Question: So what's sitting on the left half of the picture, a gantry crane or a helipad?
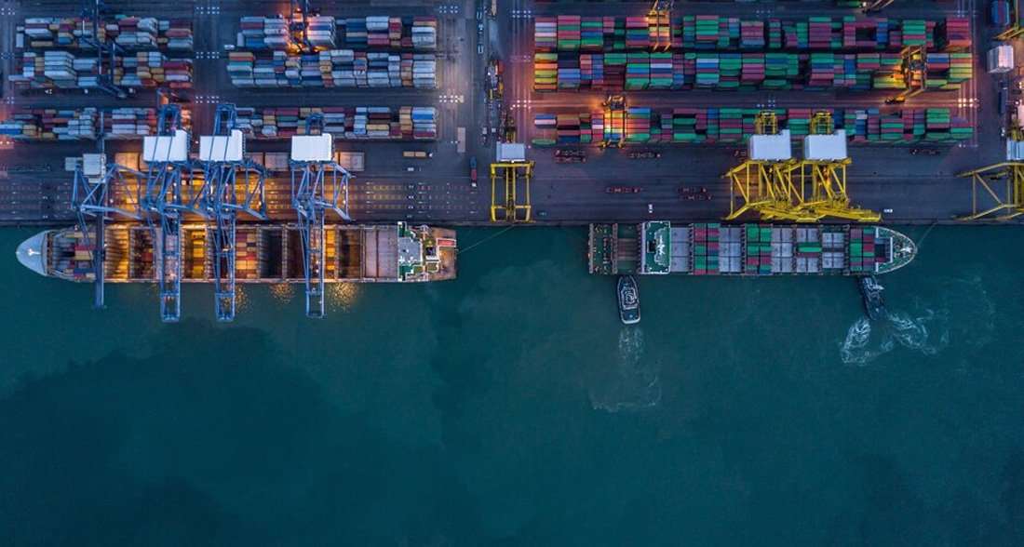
gantry crane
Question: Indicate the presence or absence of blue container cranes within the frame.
Yes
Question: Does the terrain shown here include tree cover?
No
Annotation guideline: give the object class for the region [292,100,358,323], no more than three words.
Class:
container crane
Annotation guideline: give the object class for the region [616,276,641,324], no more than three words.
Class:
boat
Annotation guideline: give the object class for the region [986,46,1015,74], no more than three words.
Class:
shed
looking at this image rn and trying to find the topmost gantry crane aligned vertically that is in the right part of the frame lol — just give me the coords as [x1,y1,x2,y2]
[648,0,673,55]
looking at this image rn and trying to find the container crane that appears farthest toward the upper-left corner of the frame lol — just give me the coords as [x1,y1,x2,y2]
[80,0,119,57]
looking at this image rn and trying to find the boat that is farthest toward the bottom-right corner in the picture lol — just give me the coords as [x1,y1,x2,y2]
[859,277,884,320]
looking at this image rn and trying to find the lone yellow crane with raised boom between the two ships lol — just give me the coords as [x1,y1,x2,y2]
[489,108,537,221]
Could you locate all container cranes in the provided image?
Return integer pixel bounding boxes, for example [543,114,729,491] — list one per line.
[767,106,890,225]
[951,141,1024,221]
[718,106,825,225]
[134,100,227,323]
[286,0,318,54]
[489,108,537,221]
[59,116,165,310]
[985,0,1024,40]
[605,97,627,153]
[80,0,119,57]
[886,44,924,100]
[195,100,277,323]
[648,0,673,55]
[292,100,358,323]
